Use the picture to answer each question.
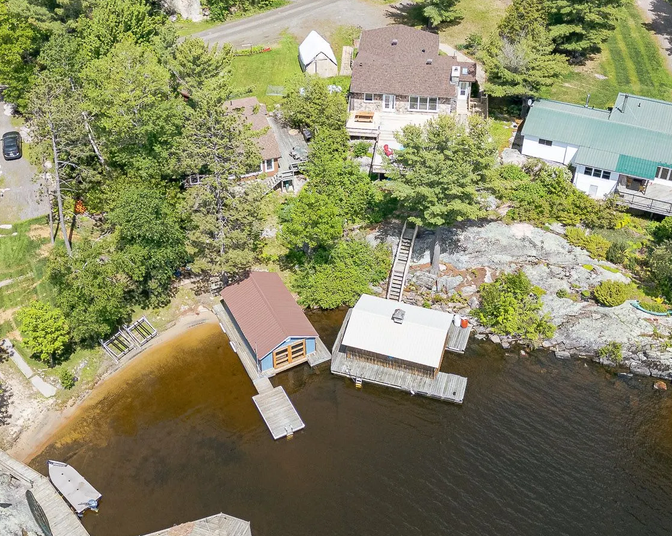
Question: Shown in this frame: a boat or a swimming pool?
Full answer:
Visible in the photo is a boat.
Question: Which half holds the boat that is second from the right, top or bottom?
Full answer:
The bottom half of the photo is where the boat that is second from the right is.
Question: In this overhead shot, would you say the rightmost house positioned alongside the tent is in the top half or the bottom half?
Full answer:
The rightmost house positioned alongside the tent sits in the top half of the picture.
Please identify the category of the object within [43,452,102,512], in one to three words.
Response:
boat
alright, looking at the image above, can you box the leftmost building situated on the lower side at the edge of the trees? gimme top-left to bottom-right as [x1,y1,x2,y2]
[215,272,322,381]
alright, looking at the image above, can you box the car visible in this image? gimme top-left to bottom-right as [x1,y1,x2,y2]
[0,129,25,161]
